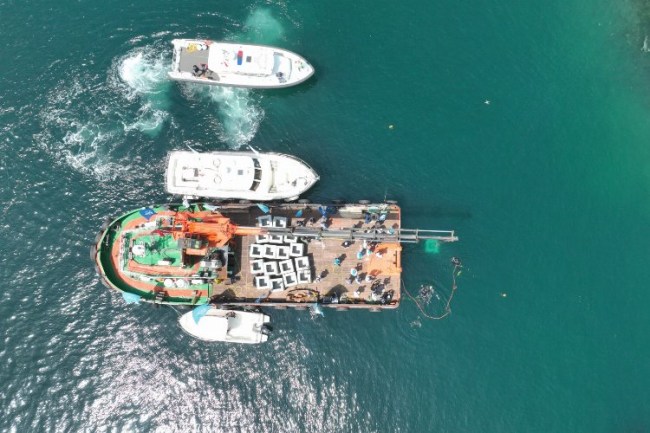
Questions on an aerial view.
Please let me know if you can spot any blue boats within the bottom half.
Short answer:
No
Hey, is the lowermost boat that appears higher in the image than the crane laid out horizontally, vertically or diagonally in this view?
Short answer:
horizontally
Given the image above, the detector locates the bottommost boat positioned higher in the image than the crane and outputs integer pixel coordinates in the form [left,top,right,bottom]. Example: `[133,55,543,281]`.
[168,145,324,201]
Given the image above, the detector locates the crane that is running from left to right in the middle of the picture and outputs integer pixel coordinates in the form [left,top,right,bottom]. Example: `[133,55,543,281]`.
[175,211,461,255]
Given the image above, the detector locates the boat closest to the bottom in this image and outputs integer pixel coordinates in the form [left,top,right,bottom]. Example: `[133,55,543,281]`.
[166,305,271,343]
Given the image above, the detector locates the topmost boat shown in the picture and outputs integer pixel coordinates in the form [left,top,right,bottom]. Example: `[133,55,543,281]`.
[169,39,315,86]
